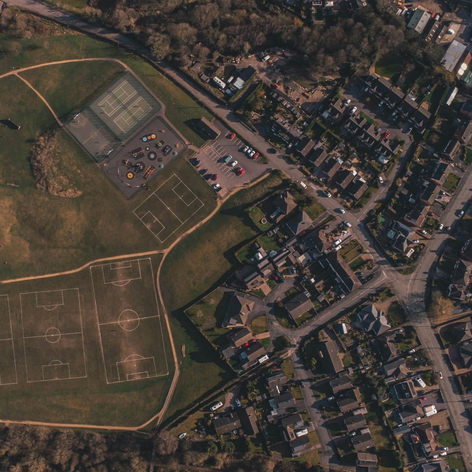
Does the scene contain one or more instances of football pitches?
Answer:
Yes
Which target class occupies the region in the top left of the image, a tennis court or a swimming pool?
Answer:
tennis court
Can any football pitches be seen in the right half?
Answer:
No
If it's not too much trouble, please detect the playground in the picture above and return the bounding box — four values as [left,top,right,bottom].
[101,116,187,199]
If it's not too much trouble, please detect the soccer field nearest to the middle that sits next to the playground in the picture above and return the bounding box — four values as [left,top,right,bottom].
[133,174,204,243]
